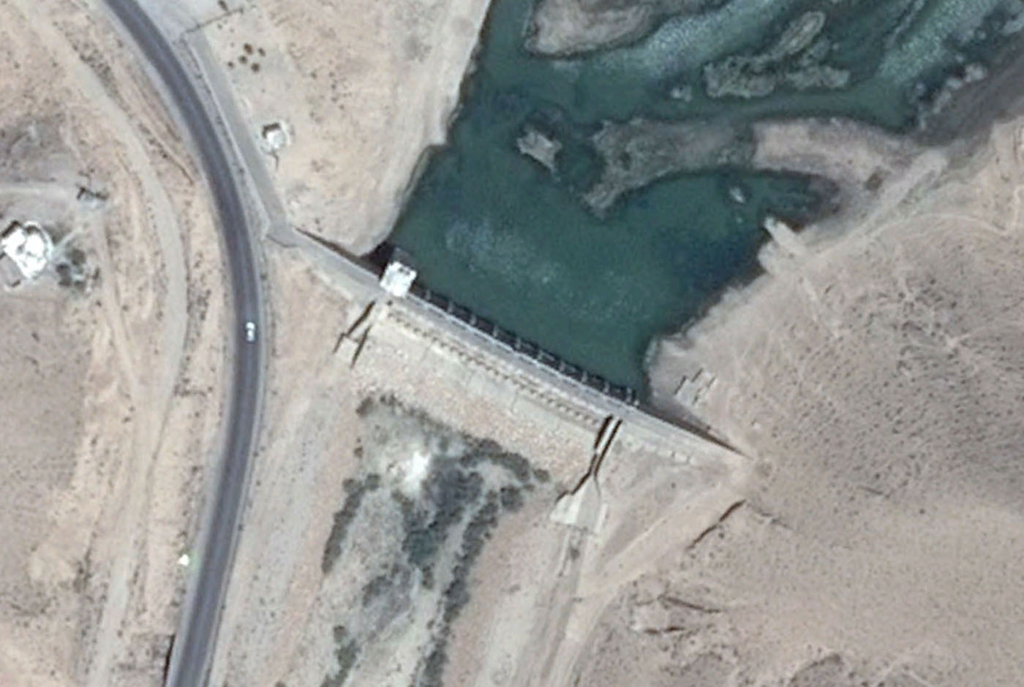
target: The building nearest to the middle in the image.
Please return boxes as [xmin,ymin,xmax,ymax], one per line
[381,248,418,297]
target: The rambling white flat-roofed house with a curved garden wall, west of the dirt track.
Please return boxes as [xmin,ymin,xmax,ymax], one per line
[0,219,52,278]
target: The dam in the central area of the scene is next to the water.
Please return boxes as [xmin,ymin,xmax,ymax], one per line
[281,227,755,474]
